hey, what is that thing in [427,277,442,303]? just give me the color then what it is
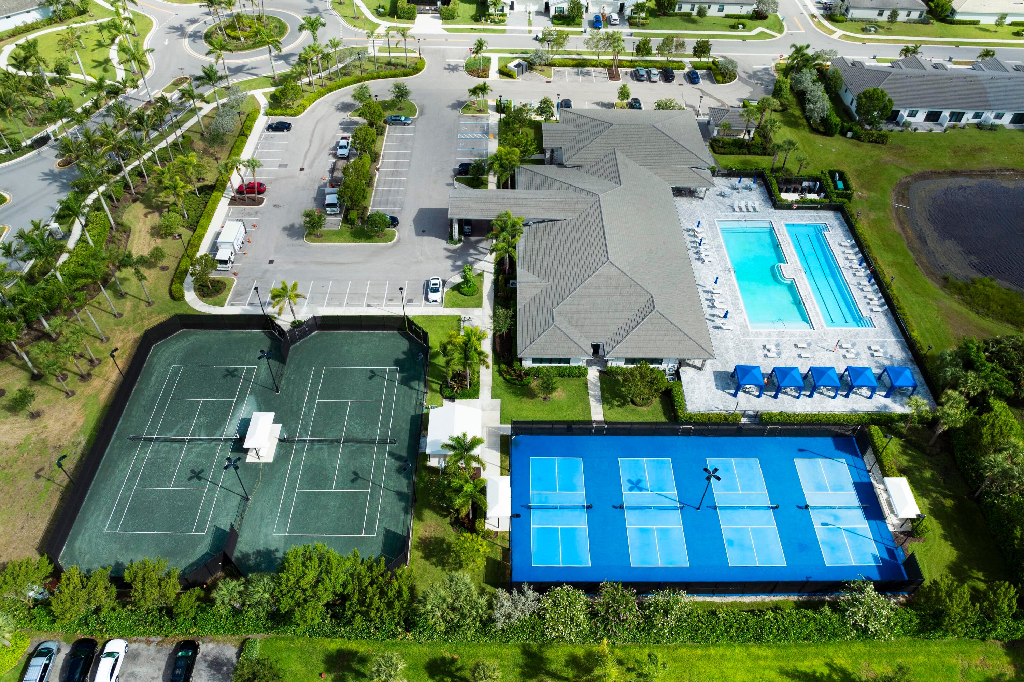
white car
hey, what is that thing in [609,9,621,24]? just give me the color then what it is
white vehicle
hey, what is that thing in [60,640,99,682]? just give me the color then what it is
black car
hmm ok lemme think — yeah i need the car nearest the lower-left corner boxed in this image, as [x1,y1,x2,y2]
[17,638,60,682]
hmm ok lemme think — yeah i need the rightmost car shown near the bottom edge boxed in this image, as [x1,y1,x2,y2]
[168,641,200,682]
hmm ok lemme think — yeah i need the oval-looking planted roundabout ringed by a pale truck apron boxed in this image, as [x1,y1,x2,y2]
[183,8,308,64]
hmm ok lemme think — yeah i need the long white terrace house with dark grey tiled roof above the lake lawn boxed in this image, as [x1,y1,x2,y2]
[824,48,1024,129]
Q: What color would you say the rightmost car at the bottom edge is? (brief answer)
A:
black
